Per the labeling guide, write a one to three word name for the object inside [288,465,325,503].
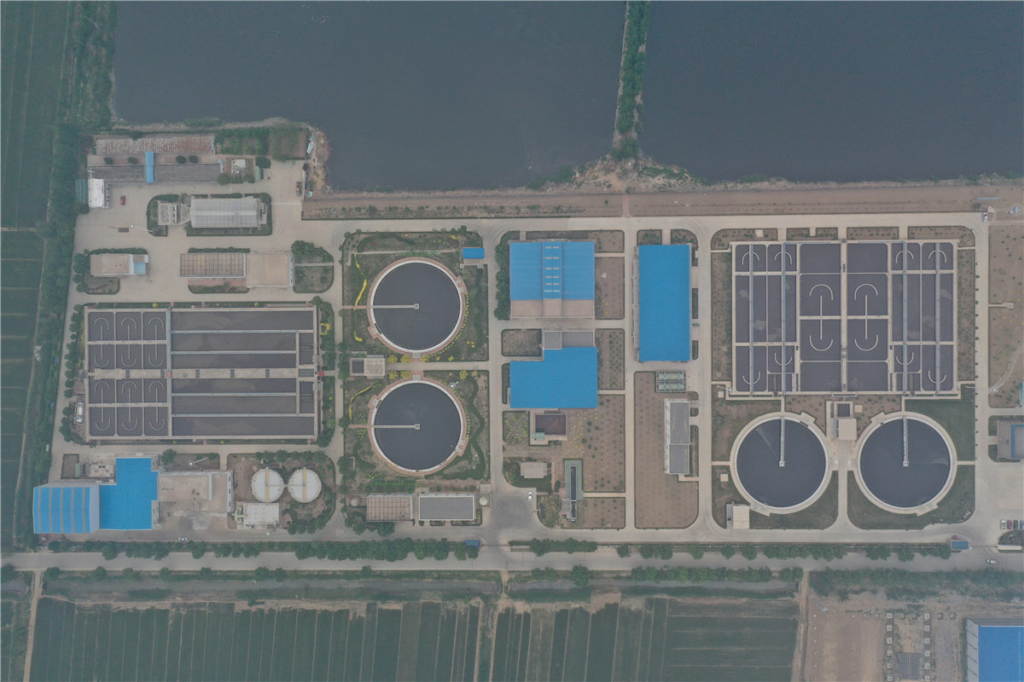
storage tank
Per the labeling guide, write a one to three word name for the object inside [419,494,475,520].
shed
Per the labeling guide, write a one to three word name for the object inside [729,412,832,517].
storage tank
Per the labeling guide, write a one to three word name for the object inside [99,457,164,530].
building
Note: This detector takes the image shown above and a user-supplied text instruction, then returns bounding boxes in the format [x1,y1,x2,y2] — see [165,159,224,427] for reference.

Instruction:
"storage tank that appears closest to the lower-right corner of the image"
[853,411,957,516]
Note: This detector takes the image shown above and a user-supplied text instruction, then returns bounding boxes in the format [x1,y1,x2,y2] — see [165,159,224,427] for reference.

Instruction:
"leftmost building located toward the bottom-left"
[31,483,103,533]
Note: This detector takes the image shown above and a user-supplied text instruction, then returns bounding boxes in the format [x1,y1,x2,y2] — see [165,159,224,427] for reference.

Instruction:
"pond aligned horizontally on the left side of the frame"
[114,0,625,190]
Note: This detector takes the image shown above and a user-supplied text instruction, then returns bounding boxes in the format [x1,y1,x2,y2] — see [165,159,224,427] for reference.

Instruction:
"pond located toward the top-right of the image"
[641,0,1024,182]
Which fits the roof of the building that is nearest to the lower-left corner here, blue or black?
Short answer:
blue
